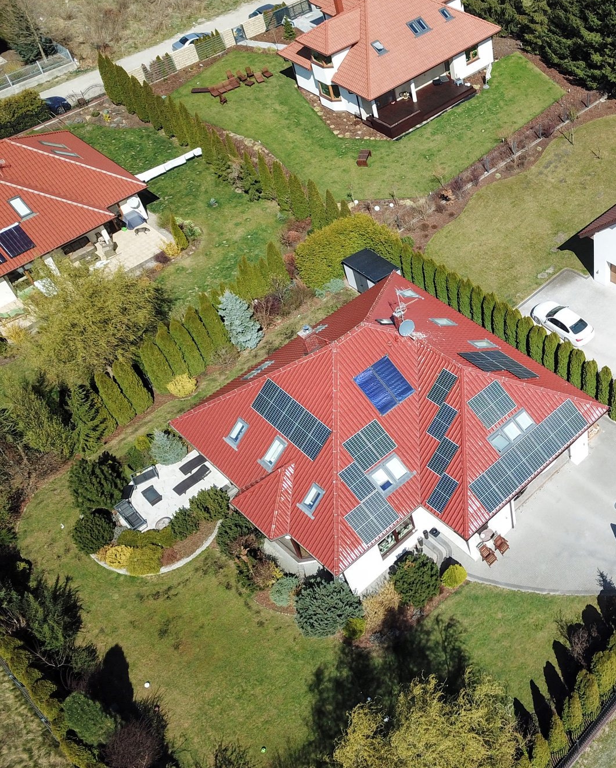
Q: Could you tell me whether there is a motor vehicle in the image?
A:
Yes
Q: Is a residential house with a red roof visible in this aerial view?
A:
Yes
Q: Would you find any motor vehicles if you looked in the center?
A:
No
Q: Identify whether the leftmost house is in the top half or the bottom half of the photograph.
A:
top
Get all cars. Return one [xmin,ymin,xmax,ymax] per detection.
[169,27,214,51]
[523,295,593,344]
[17,94,75,126]
[247,0,293,23]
